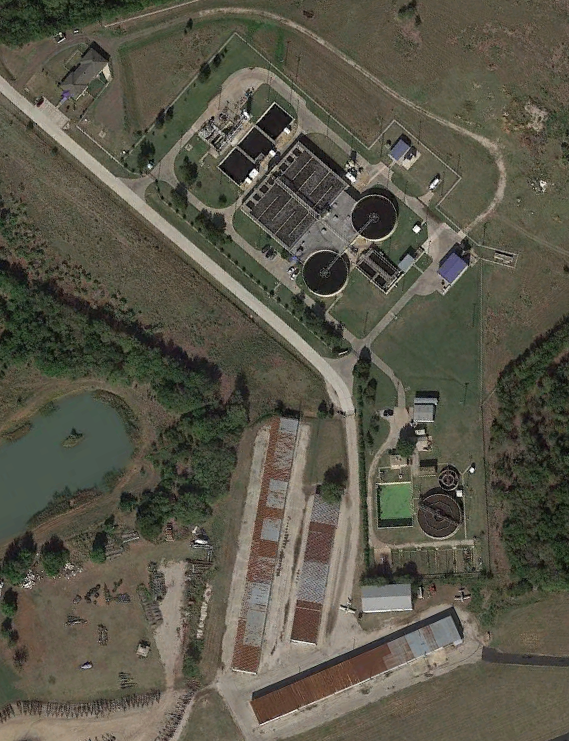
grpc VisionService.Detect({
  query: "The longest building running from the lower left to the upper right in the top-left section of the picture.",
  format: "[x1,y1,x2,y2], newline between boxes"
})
[60,46,109,100]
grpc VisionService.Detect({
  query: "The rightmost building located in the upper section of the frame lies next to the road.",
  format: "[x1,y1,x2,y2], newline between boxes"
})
[437,252,469,287]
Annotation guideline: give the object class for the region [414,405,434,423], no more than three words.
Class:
building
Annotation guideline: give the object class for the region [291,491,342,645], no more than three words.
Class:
hangar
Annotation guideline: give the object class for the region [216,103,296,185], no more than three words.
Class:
storage tank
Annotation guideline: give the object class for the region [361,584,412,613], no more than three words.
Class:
shed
